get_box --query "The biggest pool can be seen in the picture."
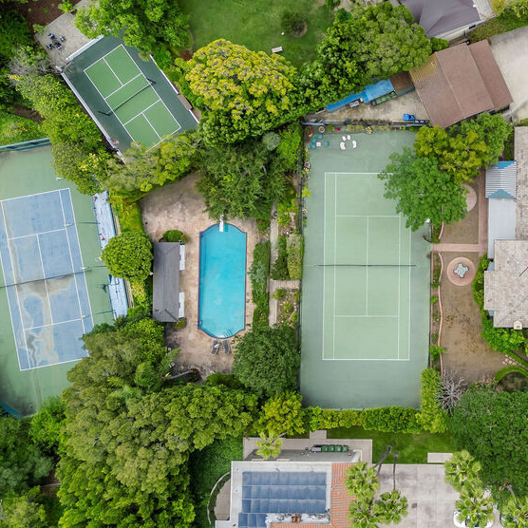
[196,219,248,342]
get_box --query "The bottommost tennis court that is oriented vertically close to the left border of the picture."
[0,145,138,420]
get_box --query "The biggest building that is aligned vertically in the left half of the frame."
[153,241,185,323]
